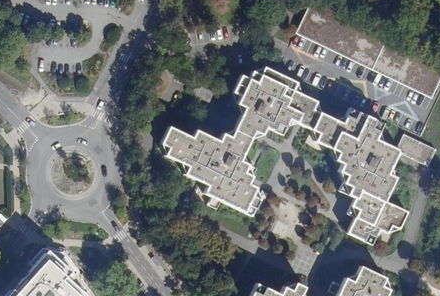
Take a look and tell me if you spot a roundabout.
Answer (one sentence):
Yes, a roundabout appears in the view.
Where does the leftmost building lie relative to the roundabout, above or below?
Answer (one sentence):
Within the scene, the leftmost building can be found below the roundabout.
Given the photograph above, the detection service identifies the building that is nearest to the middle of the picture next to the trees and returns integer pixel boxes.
[160,68,304,216]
